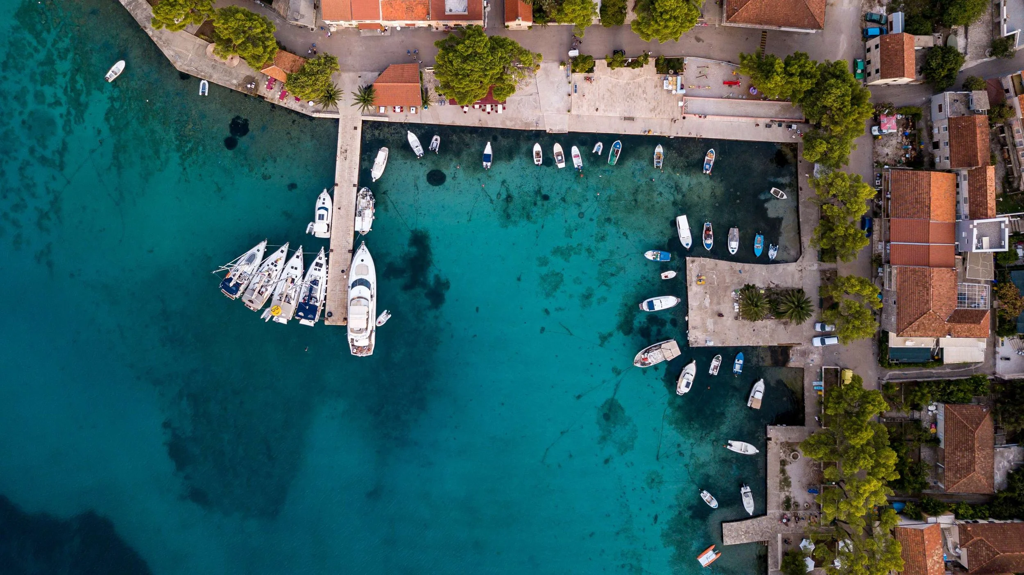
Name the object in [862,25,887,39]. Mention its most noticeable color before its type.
blue car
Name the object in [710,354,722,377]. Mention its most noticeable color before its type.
white boat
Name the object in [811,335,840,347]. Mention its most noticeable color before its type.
white vehicle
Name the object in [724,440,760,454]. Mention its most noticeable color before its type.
white boat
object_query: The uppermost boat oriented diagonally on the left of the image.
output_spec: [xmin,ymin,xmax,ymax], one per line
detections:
[101,60,127,84]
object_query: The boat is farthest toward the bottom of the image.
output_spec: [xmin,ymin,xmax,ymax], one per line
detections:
[697,547,721,568]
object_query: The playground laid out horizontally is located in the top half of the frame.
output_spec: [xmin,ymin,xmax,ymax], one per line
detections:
[684,58,794,103]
